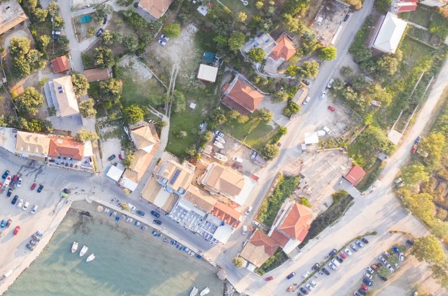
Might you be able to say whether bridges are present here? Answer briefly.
No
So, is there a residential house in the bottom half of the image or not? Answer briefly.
Yes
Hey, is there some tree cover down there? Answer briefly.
Yes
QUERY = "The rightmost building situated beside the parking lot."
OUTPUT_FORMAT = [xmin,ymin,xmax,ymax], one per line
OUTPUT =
[265,201,315,256]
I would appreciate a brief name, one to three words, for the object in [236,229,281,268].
house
